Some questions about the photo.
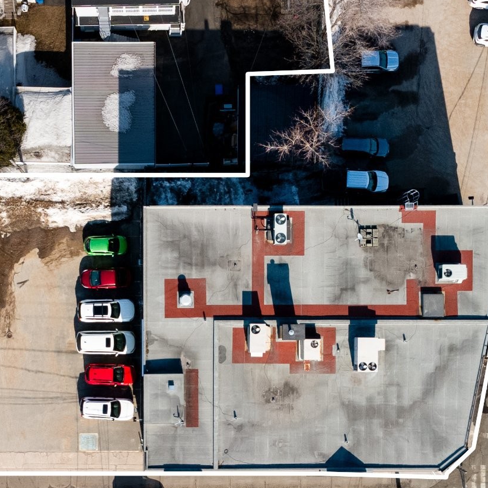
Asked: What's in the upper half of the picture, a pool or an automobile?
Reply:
automobile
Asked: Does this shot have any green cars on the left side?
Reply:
Yes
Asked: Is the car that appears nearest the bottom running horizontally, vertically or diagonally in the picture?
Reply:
horizontally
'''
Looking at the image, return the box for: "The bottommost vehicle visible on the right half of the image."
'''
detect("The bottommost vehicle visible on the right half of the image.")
[338,168,388,195]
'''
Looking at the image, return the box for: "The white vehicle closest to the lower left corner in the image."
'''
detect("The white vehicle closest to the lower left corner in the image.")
[80,396,135,422]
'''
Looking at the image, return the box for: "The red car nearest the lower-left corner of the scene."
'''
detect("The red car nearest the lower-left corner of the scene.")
[84,362,133,389]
